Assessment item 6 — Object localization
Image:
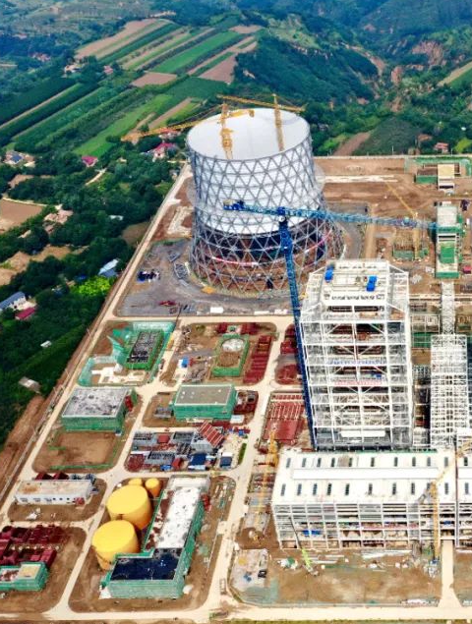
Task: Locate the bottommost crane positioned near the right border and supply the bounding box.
[417,433,472,568]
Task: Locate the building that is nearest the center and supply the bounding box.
[212,336,252,376]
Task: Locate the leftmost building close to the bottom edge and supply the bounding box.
[0,567,25,595]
